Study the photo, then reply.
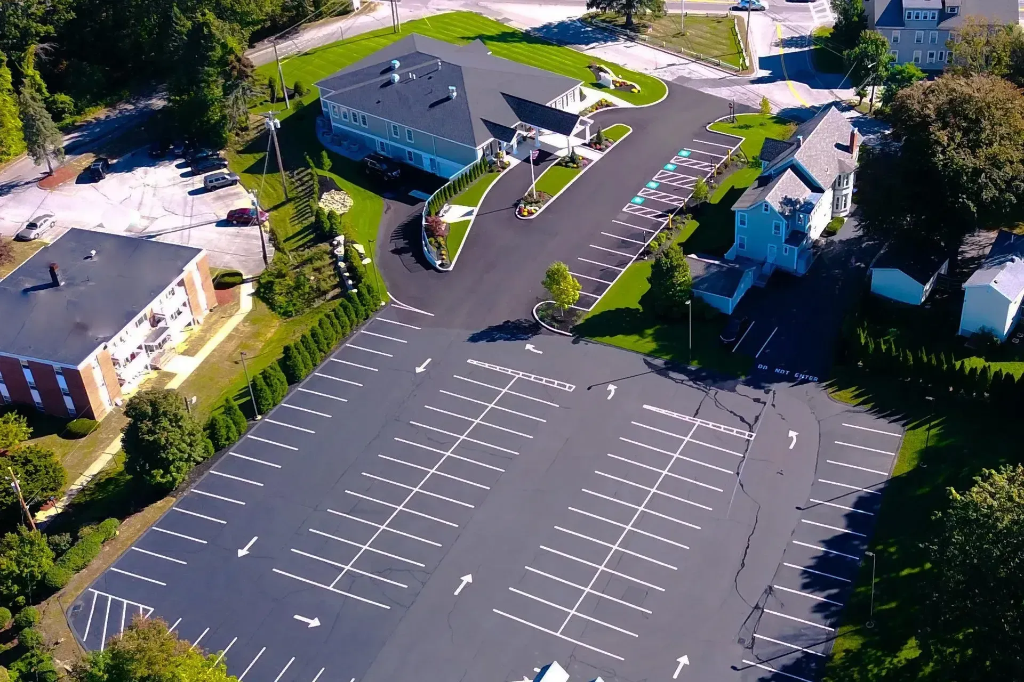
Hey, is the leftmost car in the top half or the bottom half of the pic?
top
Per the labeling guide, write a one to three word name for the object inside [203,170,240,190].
car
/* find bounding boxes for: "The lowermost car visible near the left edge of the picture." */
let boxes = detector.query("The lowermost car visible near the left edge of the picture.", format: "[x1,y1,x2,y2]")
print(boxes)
[17,213,54,236]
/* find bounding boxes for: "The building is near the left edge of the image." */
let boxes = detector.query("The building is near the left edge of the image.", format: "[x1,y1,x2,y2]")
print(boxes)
[0,228,217,421]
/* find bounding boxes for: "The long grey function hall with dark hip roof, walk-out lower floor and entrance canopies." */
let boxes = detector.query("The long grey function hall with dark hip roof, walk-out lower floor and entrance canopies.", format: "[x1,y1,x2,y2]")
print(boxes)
[314,32,592,177]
